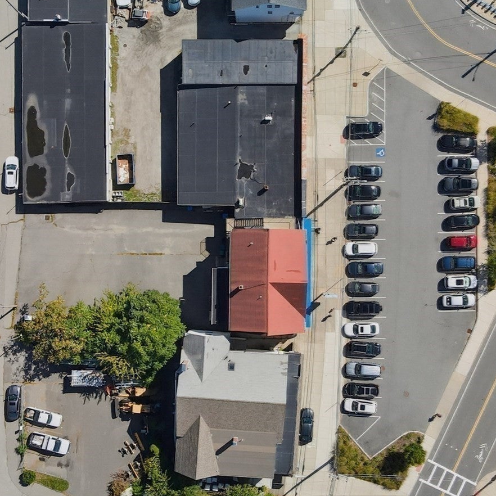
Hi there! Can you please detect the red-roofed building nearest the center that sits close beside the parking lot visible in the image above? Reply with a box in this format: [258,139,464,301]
[213,217,321,335]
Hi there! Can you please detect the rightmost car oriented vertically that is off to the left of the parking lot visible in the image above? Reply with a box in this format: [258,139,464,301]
[299,408,315,442]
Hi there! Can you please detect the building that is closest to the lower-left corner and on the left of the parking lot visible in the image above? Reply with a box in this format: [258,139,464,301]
[175,332,301,481]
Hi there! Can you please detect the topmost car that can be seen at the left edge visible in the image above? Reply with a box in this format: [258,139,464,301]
[2,155,20,191]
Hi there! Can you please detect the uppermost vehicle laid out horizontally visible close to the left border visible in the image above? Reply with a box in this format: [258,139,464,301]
[22,406,63,427]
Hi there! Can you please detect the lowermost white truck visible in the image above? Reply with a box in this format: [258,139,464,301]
[27,433,70,454]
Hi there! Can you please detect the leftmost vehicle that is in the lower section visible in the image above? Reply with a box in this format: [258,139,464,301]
[4,386,21,421]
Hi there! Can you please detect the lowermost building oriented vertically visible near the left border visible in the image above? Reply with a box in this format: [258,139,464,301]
[21,17,112,206]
